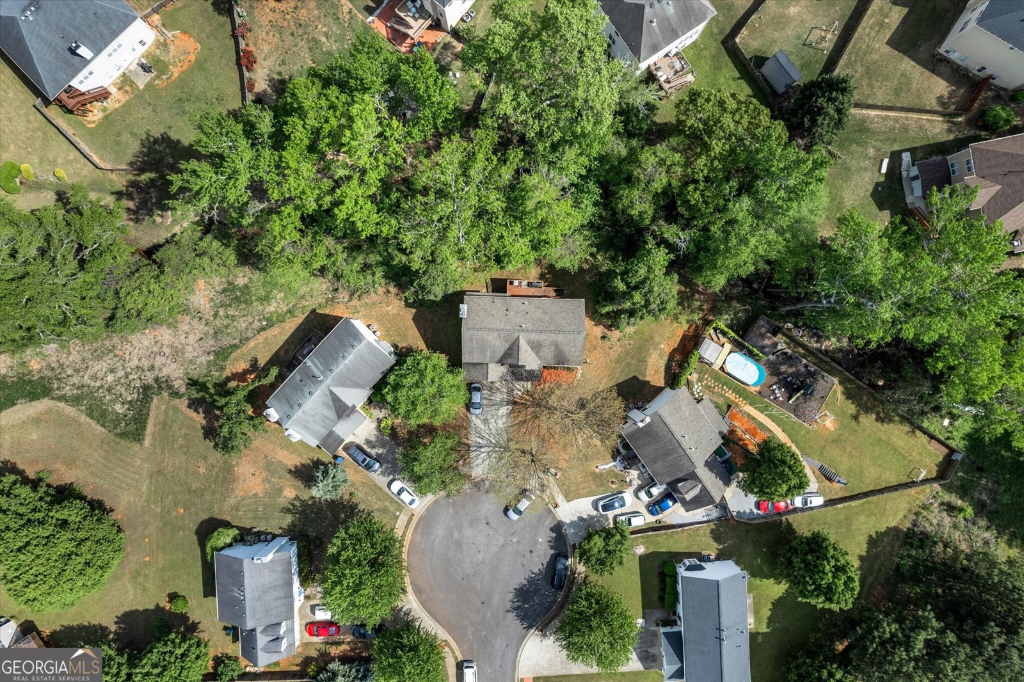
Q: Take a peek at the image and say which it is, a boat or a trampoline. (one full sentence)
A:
It is a trampoline that can be seen here.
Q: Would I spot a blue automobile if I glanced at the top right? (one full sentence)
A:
No, no blue automobile is visible at the top right.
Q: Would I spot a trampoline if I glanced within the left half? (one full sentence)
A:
No, no trampoline appears within the left half.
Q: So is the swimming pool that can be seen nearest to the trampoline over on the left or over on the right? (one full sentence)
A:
The swimming pool that can be seen nearest to the trampoline appears in the right half of the scene.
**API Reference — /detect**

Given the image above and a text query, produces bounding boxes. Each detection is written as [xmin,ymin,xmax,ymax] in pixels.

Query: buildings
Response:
[216,539,304,667]
[758,50,802,97]
[742,316,781,358]
[944,0,1024,90]
[406,0,475,31]
[262,316,398,456]
[596,0,717,73]
[619,387,730,513]
[695,339,722,362]
[657,558,751,682]
[0,614,21,672]
[459,293,585,382]
[0,0,156,101]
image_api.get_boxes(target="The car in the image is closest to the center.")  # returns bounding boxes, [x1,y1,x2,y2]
[468,383,483,414]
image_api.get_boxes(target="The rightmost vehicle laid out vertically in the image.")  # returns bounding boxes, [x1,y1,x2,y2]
[552,554,567,588]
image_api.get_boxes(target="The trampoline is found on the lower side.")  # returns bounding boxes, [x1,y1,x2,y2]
[794,400,822,425]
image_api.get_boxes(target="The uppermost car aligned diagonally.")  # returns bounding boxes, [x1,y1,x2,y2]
[349,443,379,473]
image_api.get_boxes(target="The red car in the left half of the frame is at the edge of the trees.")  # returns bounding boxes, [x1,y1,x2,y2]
[307,622,340,638]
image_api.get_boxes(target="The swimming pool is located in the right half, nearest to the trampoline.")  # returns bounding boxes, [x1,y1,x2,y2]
[725,351,769,388]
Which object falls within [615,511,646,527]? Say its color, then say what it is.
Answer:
white car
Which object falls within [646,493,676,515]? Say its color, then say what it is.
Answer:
blue car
